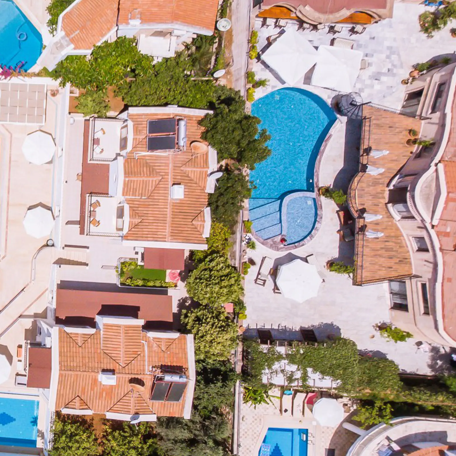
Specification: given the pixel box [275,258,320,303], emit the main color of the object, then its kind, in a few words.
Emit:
white umbrella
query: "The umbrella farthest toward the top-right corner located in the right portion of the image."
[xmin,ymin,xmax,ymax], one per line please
[314,39,364,88]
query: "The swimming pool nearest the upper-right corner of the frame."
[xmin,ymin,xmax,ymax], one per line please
[249,87,336,243]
